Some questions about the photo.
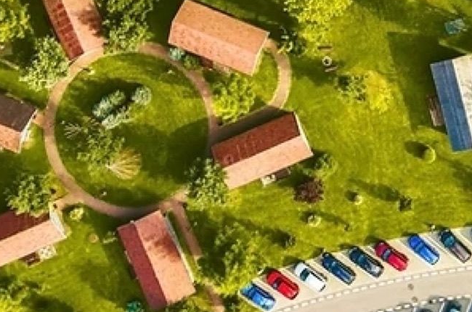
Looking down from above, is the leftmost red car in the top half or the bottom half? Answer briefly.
bottom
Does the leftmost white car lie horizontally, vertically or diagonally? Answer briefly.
diagonally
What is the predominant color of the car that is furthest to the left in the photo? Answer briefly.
blue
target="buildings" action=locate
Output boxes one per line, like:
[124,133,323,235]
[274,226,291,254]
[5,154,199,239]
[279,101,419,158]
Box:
[168,2,269,76]
[0,194,71,267]
[43,0,110,61]
[117,209,197,311]
[429,54,472,152]
[211,111,312,189]
[0,91,43,154]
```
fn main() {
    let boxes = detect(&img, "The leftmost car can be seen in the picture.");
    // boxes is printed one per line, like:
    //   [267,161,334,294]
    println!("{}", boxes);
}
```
[238,284,277,312]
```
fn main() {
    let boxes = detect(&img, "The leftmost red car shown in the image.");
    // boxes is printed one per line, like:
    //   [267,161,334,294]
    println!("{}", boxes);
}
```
[264,268,302,302]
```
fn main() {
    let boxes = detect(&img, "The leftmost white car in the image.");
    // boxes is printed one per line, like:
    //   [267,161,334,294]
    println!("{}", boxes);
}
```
[290,259,331,297]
